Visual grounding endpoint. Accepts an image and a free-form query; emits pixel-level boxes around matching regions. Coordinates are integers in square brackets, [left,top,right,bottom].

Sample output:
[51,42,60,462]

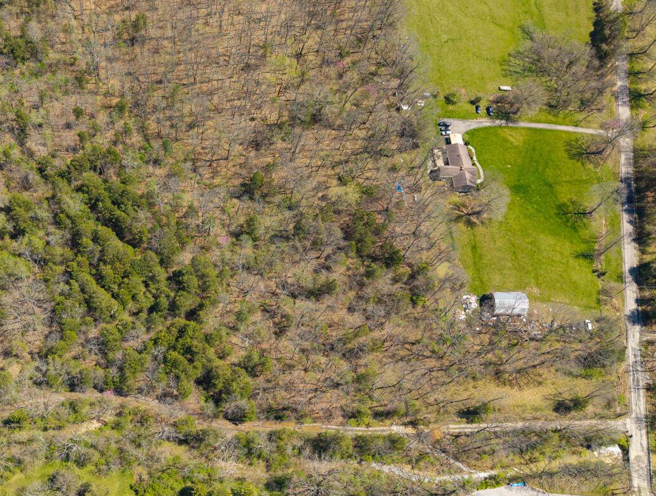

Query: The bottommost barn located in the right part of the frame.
[490,294,530,319]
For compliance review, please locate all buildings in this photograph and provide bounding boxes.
[490,294,530,319]
[439,133,479,191]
